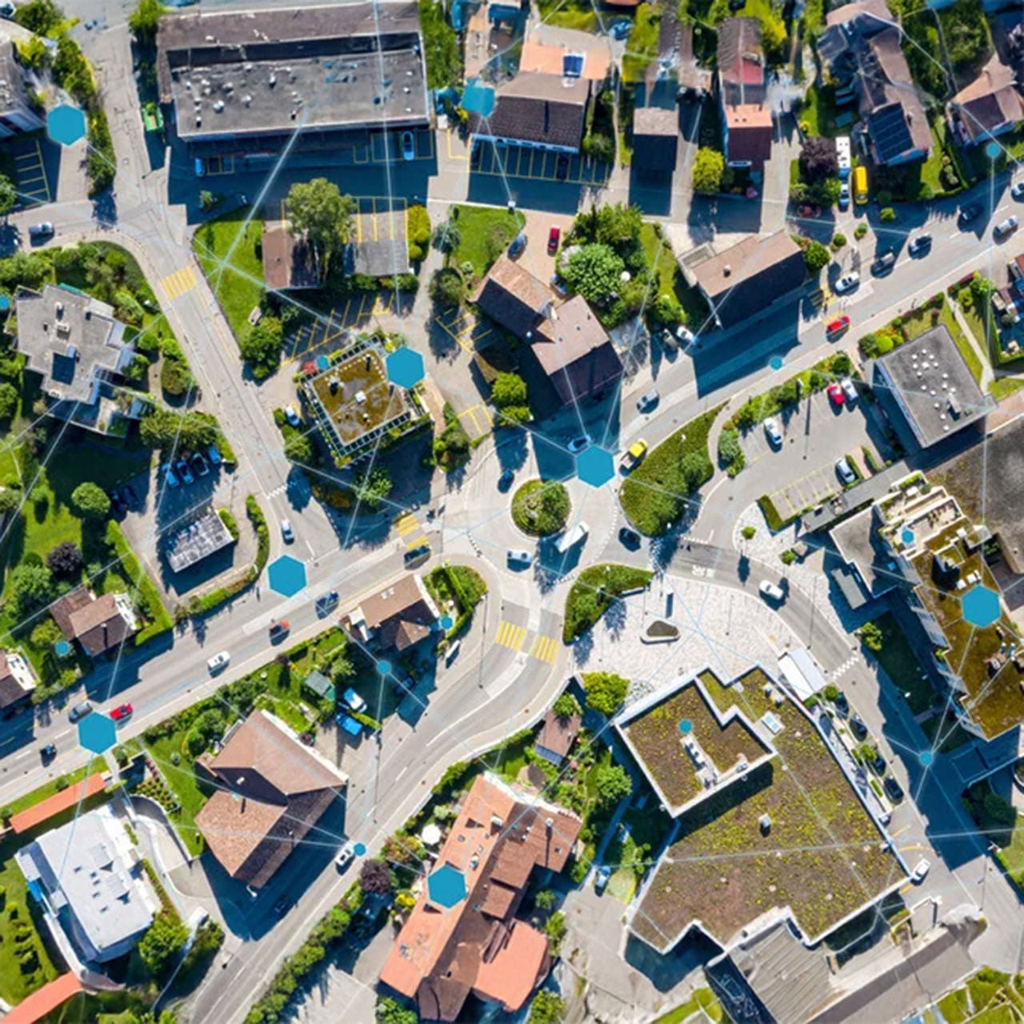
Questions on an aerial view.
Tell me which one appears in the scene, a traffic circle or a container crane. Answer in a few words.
traffic circle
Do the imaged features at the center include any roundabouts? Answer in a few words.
Yes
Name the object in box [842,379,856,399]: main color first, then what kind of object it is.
white car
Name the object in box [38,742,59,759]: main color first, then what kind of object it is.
blue car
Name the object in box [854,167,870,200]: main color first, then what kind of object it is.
yellow vehicle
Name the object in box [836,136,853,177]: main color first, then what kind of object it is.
white vehicle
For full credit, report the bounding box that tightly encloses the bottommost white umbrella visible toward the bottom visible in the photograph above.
[422,824,442,844]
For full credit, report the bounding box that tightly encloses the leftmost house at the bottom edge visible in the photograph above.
[15,797,165,977]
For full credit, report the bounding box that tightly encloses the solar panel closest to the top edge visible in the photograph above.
[868,104,912,163]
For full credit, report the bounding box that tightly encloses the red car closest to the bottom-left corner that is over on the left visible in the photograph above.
[110,703,133,719]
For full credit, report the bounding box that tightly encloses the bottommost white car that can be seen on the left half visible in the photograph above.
[335,847,353,867]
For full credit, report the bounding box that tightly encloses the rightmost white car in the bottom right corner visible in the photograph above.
[913,860,930,879]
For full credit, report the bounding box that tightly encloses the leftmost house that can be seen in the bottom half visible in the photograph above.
[0,650,45,705]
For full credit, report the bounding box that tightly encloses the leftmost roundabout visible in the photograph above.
[468,434,615,581]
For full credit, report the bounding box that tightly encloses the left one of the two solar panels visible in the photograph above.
[536,745,562,765]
